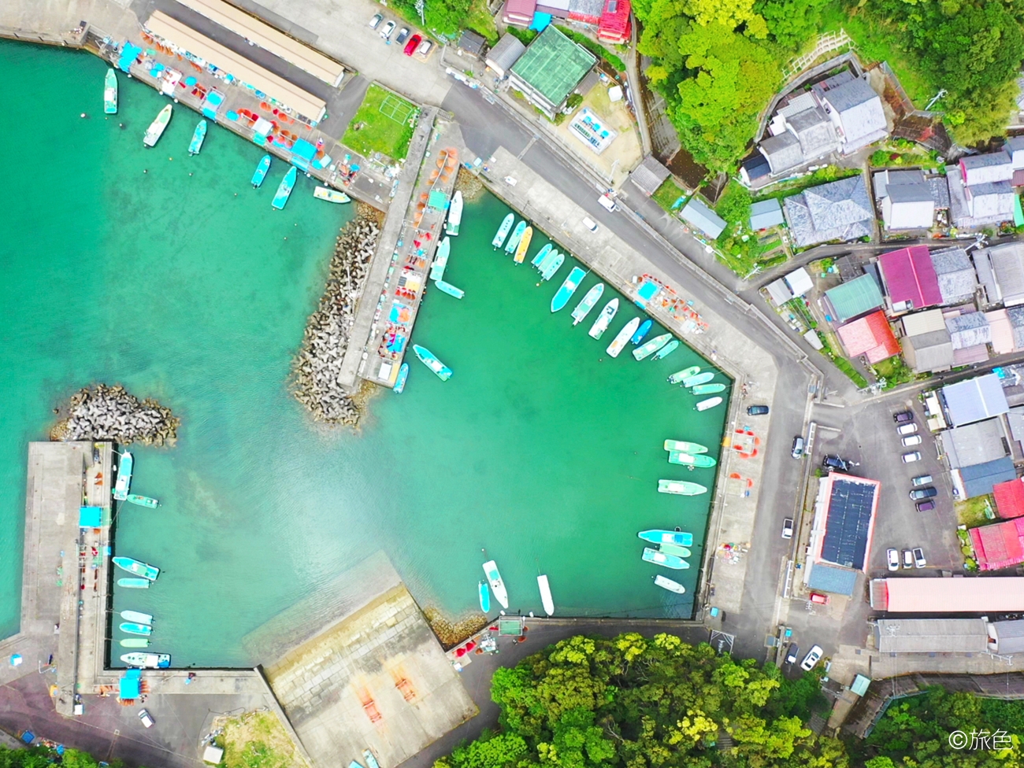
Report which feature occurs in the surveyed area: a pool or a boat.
boat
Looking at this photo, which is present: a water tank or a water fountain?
water tank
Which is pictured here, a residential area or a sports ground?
residential area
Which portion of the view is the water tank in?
top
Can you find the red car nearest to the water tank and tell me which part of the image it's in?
top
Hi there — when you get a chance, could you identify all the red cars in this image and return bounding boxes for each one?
[403,34,423,58]
[809,591,829,606]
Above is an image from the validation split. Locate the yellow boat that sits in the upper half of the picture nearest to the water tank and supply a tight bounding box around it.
[513,226,532,265]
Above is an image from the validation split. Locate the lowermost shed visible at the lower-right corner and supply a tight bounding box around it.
[845,674,871,698]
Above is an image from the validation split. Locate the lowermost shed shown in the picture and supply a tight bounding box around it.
[202,743,226,765]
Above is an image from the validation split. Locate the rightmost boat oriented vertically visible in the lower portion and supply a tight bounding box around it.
[537,574,554,616]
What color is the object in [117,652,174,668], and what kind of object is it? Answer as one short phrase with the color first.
white boat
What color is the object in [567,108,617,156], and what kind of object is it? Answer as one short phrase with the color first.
white water tank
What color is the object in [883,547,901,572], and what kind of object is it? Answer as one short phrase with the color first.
white car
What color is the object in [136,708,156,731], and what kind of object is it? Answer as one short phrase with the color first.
white vehicle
